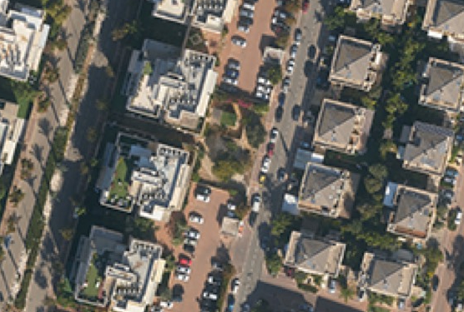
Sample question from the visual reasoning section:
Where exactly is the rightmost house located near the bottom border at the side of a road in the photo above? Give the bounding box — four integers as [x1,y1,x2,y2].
[357,252,425,304]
